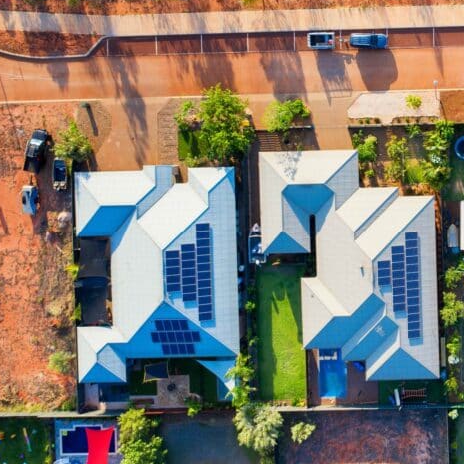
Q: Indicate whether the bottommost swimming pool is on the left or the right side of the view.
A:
left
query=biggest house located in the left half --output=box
[74,164,242,384]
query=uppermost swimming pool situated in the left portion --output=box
[99,383,129,403]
